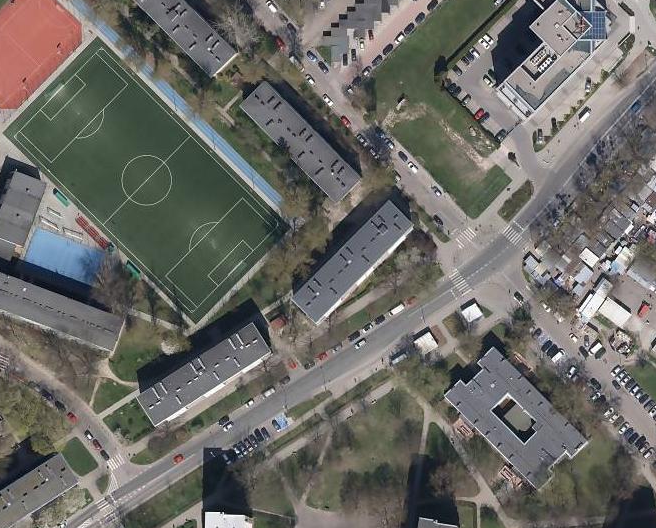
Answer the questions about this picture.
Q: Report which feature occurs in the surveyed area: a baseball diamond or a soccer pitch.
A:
soccer pitch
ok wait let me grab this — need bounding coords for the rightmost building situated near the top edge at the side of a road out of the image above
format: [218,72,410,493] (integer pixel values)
[496,0,607,119]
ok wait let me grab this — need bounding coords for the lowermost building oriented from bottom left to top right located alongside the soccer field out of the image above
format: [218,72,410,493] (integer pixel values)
[136,323,271,429]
